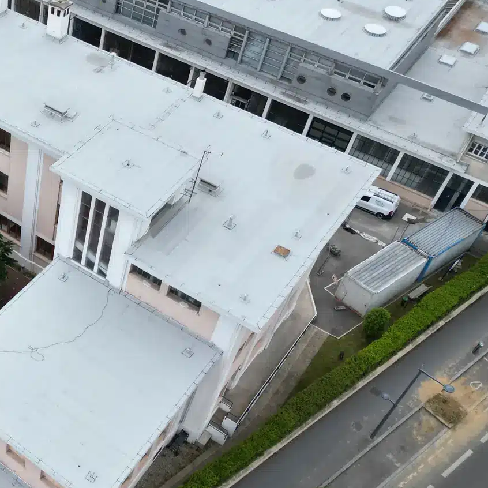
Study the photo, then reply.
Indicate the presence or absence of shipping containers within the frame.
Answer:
Yes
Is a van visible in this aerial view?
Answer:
Yes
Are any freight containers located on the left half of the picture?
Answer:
No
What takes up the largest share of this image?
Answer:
buildings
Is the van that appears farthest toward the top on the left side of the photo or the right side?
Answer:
right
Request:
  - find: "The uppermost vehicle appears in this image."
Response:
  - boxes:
[357,184,406,222]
